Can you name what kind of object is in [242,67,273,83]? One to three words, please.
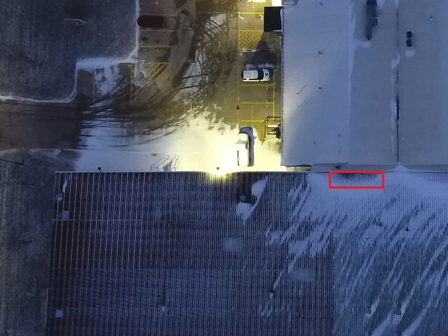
car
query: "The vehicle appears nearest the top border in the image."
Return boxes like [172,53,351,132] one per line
[138,14,167,30]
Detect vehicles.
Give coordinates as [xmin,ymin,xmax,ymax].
[237,132,251,167]
[242,67,273,83]
[138,14,167,30]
